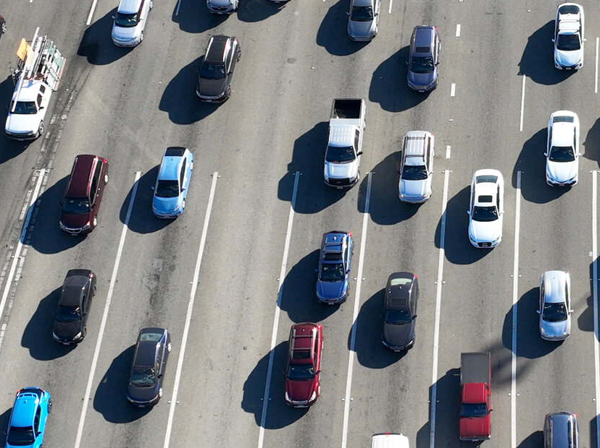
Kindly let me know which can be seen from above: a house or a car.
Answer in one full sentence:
This aerial view contains a car.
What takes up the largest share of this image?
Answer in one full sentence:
What you mostly see from above here is paved ground.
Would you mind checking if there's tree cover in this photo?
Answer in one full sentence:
No, there's no tree cover in this view.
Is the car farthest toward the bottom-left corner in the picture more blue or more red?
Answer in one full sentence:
The car farthest toward the bottom-left corner is blue.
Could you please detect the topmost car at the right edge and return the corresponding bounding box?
[550,8,586,70]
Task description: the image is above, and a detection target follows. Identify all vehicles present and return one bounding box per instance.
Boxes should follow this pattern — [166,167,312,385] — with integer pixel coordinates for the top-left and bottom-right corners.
[320,100,366,188]
[344,0,380,42]
[543,411,580,448]
[312,225,355,304]
[49,267,100,346]
[123,324,173,407]
[3,48,68,138]
[109,0,152,46]
[395,127,435,203]
[149,149,195,218]
[466,175,505,249]
[543,115,581,188]
[371,427,411,448]
[195,35,238,103]
[281,322,326,407]
[550,8,586,70]
[1,389,55,448]
[378,270,419,352]
[57,154,110,235]
[207,0,239,15]
[454,350,495,441]
[404,25,440,93]
[535,267,575,342]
